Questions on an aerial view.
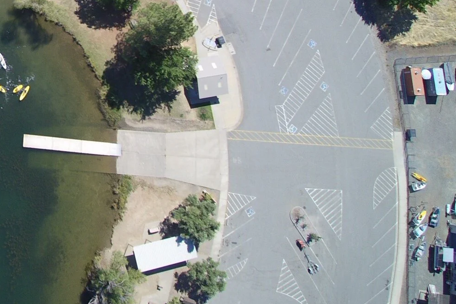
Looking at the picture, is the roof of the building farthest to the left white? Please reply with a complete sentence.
Yes, the roof of the building farthest to the left appears white.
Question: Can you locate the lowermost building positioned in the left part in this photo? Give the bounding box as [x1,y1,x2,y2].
[134,233,197,272]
